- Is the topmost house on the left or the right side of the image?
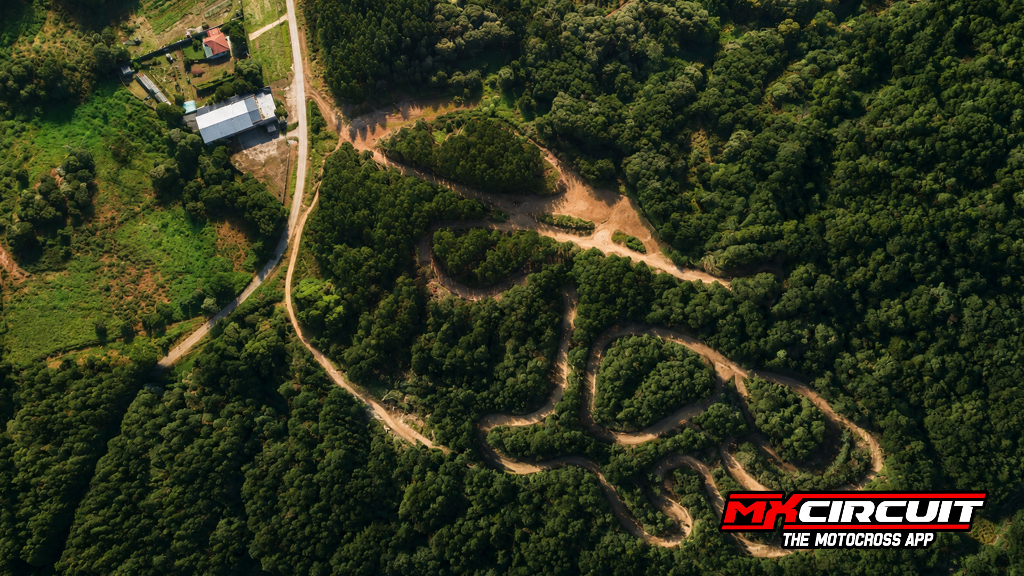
left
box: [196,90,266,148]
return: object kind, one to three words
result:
building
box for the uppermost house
[203,28,231,60]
